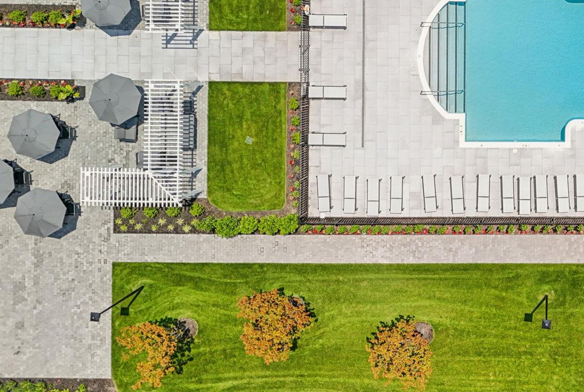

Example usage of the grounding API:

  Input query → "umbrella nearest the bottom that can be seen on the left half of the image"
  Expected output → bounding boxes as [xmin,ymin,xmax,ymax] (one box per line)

[15,185,69,238]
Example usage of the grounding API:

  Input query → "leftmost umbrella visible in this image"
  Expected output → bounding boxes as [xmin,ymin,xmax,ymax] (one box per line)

[0,157,19,202]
